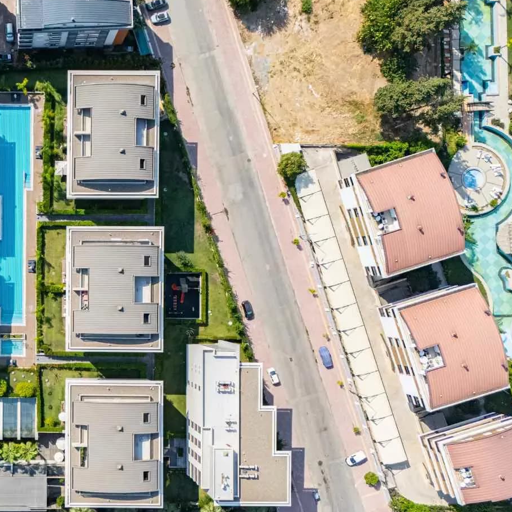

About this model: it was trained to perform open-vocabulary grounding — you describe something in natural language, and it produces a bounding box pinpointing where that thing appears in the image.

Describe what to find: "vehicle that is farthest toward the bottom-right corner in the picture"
[344,450,369,466]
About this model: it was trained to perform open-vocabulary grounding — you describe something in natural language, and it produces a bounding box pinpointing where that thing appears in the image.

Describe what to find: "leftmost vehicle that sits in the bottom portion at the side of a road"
[242,300,254,320]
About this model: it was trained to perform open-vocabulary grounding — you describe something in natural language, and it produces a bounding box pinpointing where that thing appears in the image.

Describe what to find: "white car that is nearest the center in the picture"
[266,365,280,387]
